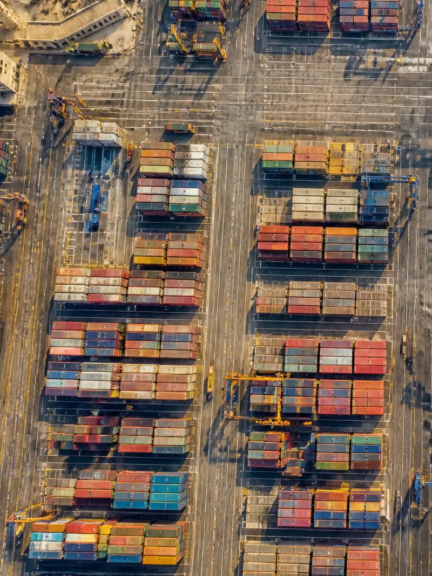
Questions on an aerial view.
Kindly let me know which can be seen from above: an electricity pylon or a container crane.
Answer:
container crane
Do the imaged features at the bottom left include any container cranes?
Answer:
Yes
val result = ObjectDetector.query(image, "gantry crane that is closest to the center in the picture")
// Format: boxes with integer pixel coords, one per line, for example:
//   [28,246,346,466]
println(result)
[226,372,288,423]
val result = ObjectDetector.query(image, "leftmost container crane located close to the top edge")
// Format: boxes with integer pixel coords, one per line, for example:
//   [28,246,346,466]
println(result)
[168,17,229,58]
